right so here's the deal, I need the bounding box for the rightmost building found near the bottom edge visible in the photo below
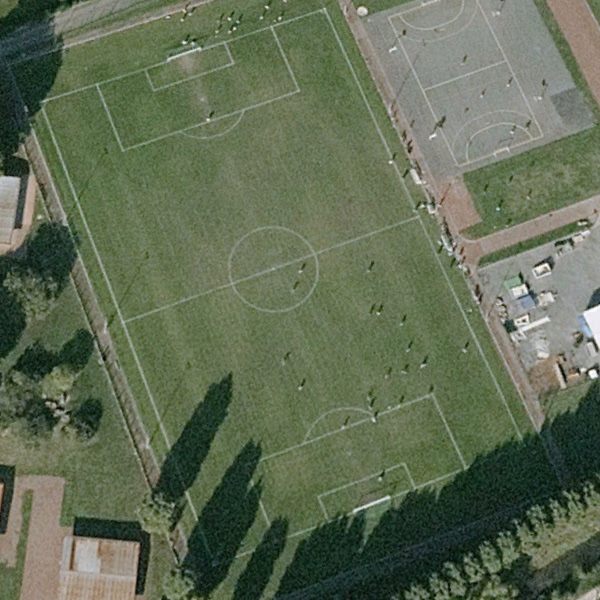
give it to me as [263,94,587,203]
[57,538,139,600]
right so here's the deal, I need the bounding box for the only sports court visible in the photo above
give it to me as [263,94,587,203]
[362,0,598,179]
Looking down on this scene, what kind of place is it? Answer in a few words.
sports ground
